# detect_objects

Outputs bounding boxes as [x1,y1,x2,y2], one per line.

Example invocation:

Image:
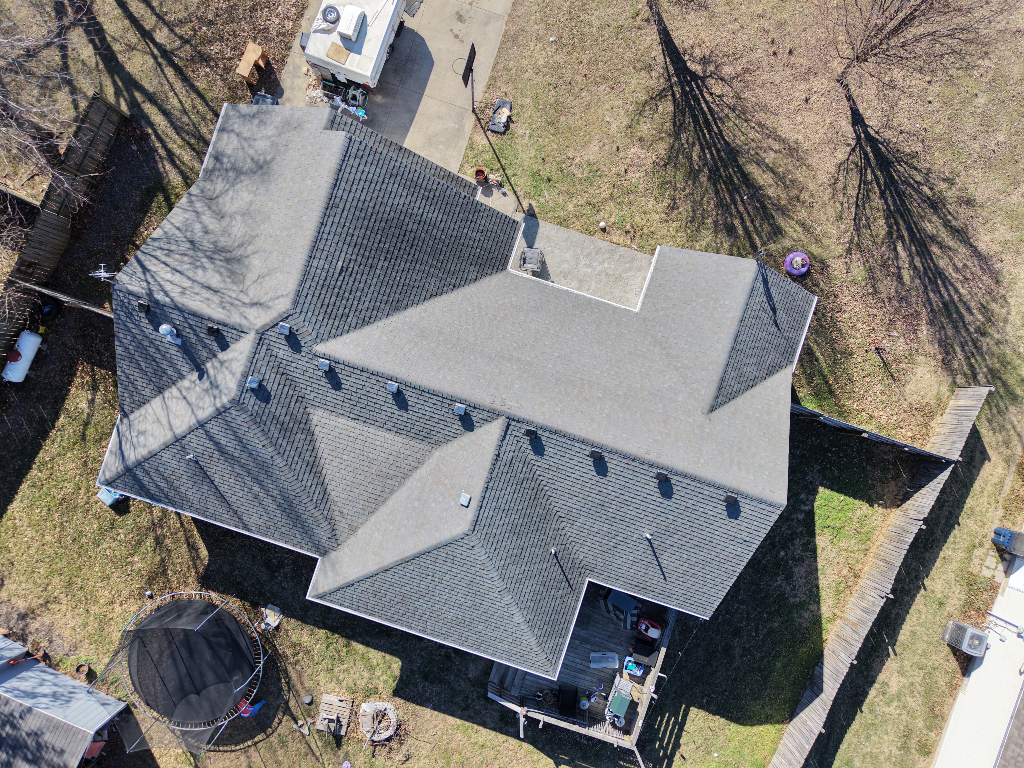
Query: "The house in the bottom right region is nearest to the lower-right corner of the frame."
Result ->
[926,582,1024,768]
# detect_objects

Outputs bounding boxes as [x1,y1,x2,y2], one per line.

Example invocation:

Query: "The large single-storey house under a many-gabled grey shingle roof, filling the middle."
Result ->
[96,103,818,680]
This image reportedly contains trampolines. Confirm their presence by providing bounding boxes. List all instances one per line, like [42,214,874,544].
[86,588,273,755]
